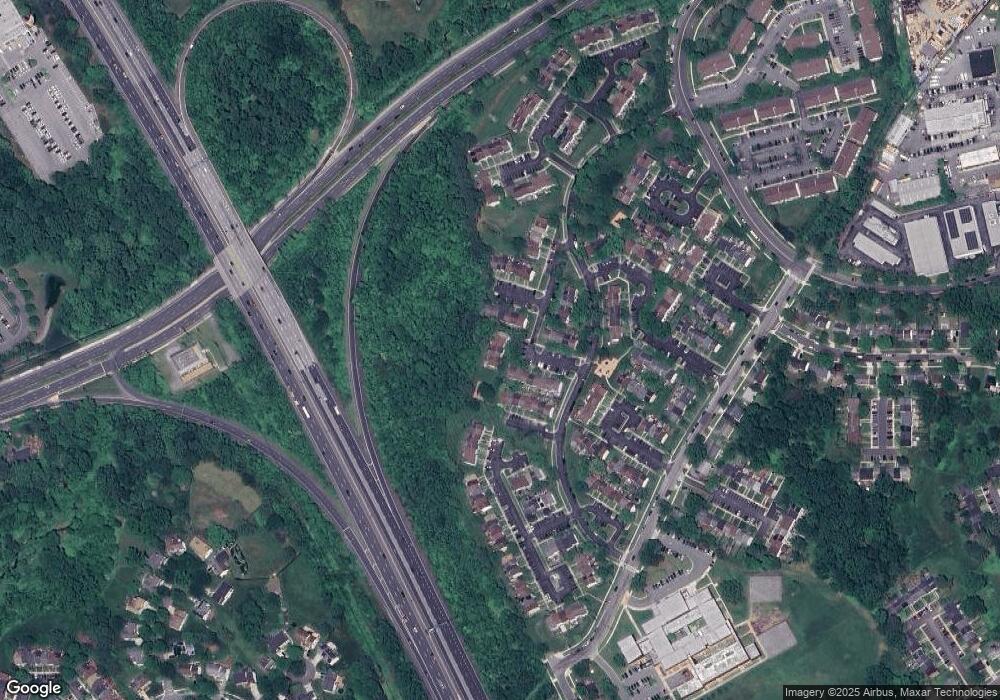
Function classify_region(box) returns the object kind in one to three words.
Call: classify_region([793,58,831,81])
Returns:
building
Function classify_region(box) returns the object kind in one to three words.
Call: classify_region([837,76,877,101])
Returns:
building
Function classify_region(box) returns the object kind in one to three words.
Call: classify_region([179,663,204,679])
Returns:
house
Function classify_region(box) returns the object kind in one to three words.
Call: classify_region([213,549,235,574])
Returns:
house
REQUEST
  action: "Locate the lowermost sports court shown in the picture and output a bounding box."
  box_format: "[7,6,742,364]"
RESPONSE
[759,622,796,656]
